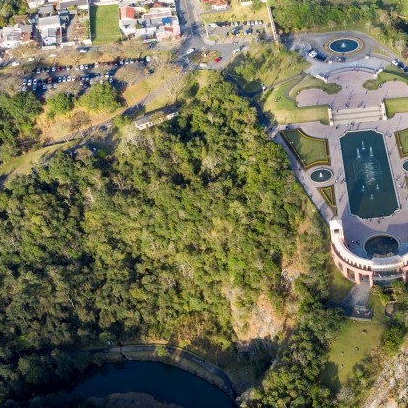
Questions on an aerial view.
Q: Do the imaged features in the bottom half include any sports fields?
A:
No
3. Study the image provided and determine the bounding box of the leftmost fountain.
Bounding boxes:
[310,167,331,181]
